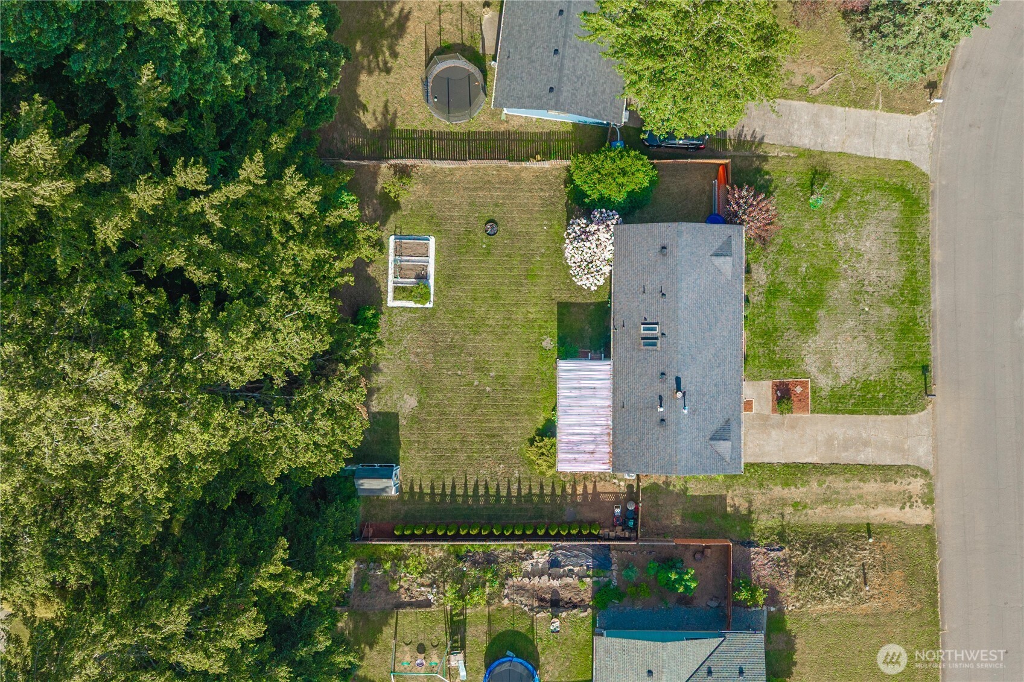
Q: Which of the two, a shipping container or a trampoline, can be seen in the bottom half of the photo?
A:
trampoline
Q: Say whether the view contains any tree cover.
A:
Yes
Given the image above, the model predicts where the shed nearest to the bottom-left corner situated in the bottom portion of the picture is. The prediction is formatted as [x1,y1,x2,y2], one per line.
[351,461,401,498]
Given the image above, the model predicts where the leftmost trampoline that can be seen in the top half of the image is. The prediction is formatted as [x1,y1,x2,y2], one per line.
[422,52,486,124]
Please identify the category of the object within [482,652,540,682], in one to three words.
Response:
trampoline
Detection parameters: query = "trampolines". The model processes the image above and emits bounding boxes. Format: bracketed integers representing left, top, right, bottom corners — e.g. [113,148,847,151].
[482,652,540,682]
[422,52,486,124]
